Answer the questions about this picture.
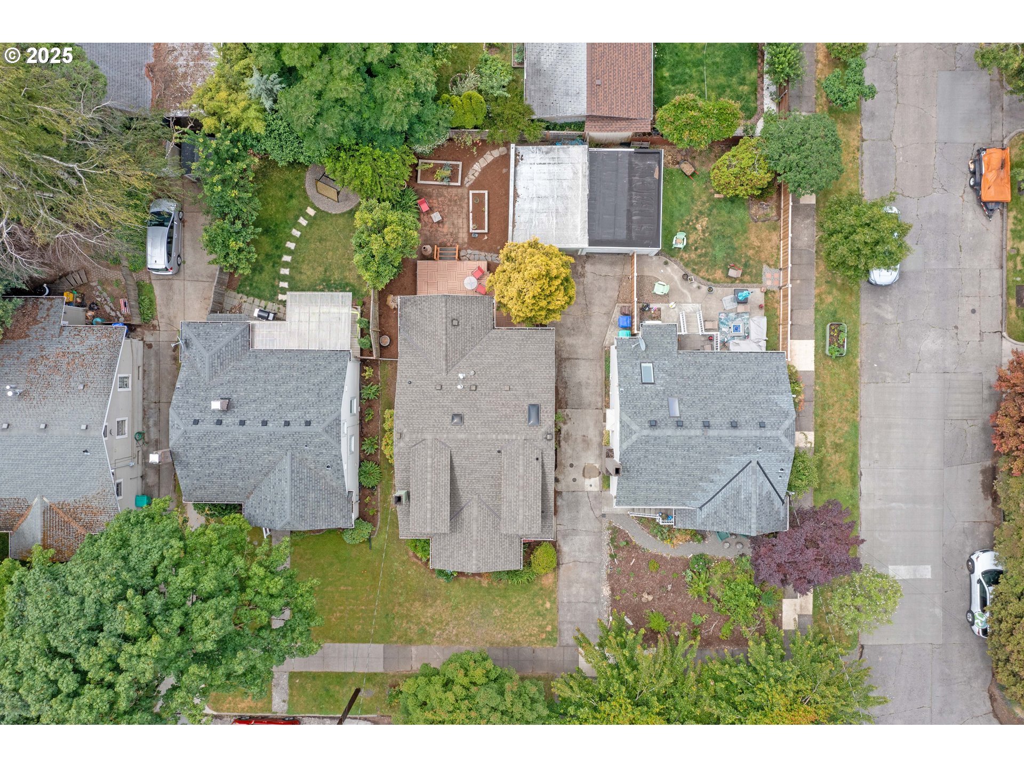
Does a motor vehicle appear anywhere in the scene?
Yes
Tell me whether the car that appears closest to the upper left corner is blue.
No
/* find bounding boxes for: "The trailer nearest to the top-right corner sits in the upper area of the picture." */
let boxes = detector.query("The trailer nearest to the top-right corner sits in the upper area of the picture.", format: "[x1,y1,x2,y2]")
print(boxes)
[961,143,1011,231]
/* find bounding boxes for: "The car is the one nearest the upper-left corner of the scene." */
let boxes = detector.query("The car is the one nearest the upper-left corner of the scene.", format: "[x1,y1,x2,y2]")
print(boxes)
[145,199,183,273]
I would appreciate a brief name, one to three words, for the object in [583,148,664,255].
building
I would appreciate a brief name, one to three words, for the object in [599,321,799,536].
house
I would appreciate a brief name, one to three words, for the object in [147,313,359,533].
house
